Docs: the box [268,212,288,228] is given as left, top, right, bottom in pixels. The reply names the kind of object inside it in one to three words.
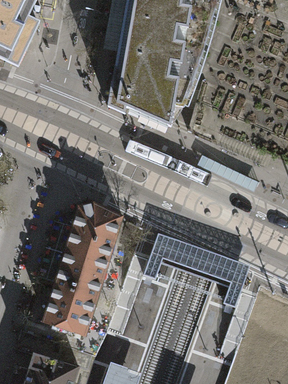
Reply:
car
